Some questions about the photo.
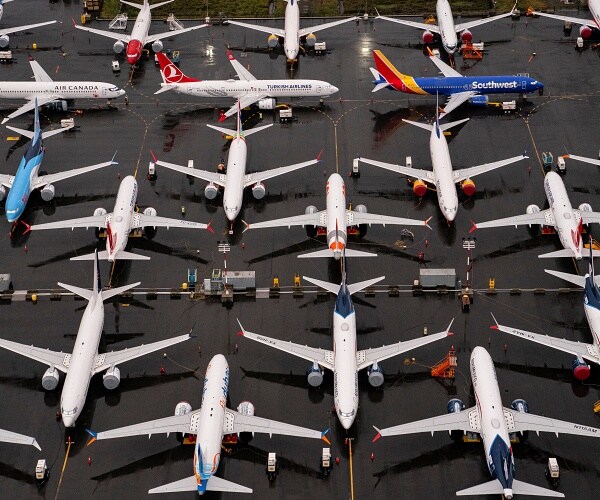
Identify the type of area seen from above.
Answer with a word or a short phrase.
airport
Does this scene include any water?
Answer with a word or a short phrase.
No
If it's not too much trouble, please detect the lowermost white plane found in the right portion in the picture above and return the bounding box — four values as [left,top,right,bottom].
[374,344,600,496]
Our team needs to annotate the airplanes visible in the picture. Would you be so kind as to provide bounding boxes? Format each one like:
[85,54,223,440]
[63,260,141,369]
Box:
[0,96,118,225]
[376,0,514,58]
[0,247,197,428]
[354,90,529,222]
[369,48,544,120]
[150,95,324,223]
[471,172,600,260]
[0,0,62,47]
[236,242,454,429]
[527,0,600,38]
[85,352,330,494]
[222,0,361,64]
[0,53,125,124]
[241,172,433,258]
[72,0,212,69]
[491,234,600,380]
[374,344,600,496]
[561,146,600,168]
[22,174,213,261]
[154,50,337,121]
